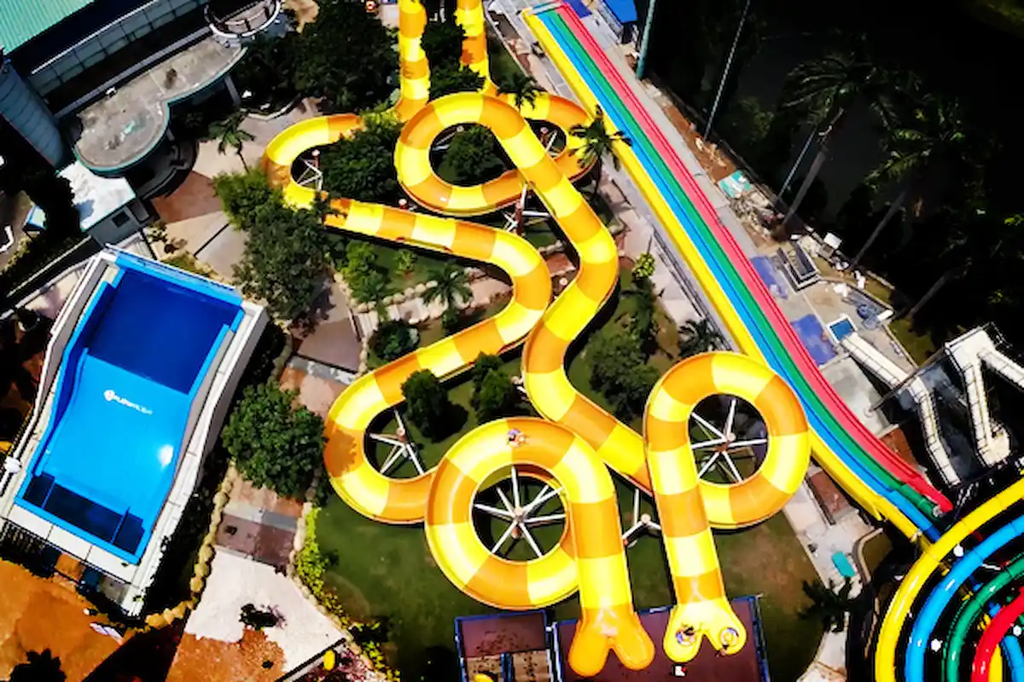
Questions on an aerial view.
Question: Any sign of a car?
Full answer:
No, the picture doesn't show any car.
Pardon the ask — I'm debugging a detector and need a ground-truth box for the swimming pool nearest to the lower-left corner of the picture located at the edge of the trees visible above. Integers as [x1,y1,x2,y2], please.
[0,245,272,614]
